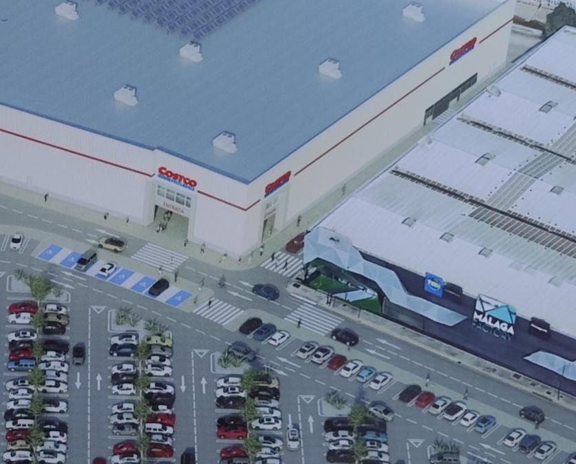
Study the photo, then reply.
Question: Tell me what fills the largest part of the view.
buildings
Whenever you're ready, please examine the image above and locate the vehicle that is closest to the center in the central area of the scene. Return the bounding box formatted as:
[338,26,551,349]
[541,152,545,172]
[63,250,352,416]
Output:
[286,233,304,253]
